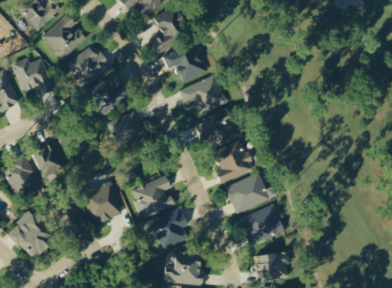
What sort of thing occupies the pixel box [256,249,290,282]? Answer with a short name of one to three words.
house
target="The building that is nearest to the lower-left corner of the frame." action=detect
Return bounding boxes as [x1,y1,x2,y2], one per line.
[8,212,50,256]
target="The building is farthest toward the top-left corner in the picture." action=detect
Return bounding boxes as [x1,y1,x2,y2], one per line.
[18,0,62,30]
